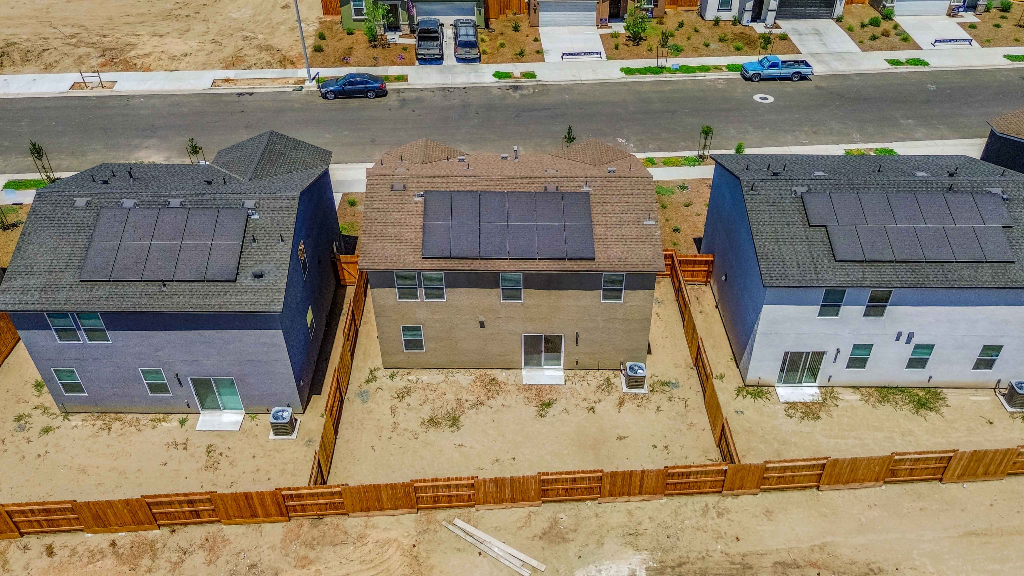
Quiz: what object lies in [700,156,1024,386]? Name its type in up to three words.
house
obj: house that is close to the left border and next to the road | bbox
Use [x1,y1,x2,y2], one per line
[0,131,342,414]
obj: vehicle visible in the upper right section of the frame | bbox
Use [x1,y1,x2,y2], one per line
[735,51,815,80]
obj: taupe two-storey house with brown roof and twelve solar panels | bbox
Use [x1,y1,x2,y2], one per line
[360,137,668,369]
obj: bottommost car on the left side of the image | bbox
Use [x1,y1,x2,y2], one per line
[315,70,390,98]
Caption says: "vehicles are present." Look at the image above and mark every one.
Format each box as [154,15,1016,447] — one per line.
[454,19,484,55]
[416,18,449,58]
[735,51,815,80]
[315,70,390,98]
